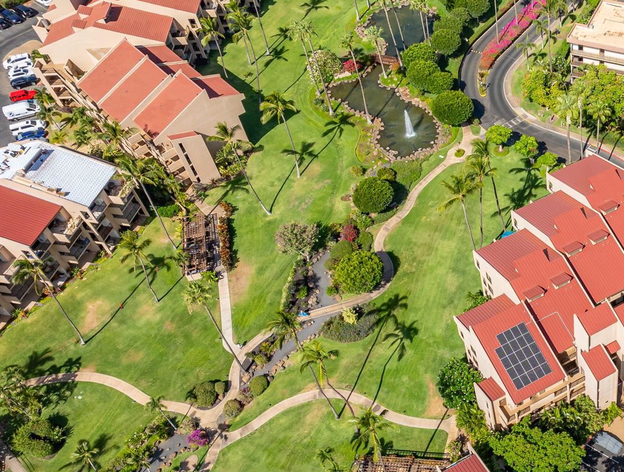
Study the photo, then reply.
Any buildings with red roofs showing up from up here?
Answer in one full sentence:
Yes, this view includes a building with a red roof.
